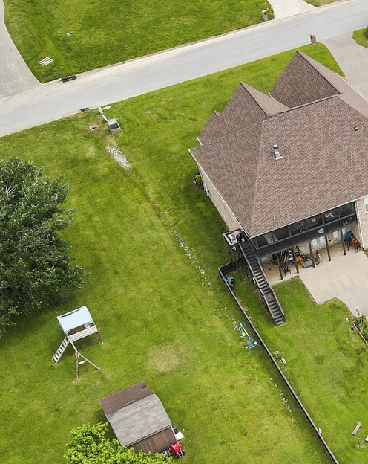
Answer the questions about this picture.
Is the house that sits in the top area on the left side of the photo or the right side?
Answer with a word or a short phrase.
right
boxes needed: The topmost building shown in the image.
[189,51,368,279]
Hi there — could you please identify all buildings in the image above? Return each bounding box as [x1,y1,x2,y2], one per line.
[101,381,174,457]
[189,51,368,279]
